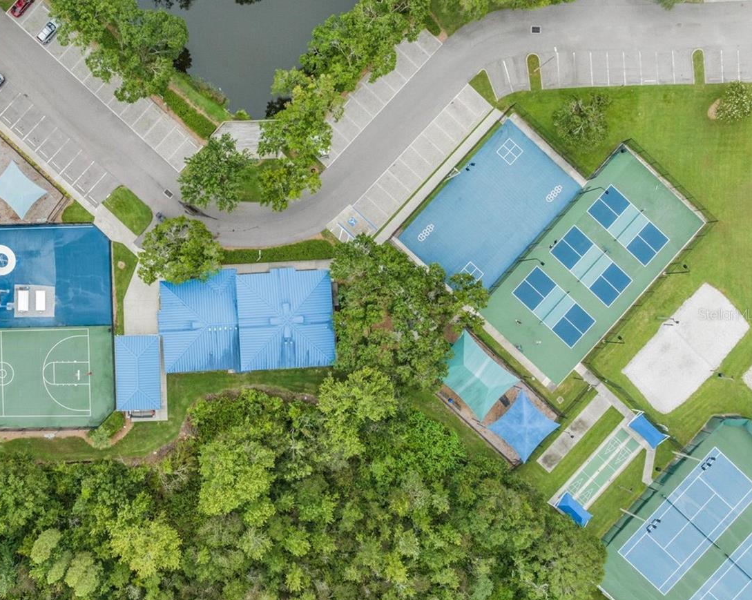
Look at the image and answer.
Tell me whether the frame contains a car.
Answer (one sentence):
Yes, this view includes a car.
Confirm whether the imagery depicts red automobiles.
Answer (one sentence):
Yes, there's a red automobile down there.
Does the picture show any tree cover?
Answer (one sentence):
Yes, tree cover shows up in the scene.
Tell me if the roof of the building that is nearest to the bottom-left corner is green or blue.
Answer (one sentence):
The color of the roof of the building that is nearest to the bottom-left corner is blue.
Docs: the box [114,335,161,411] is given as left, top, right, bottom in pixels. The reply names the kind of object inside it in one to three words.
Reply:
building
